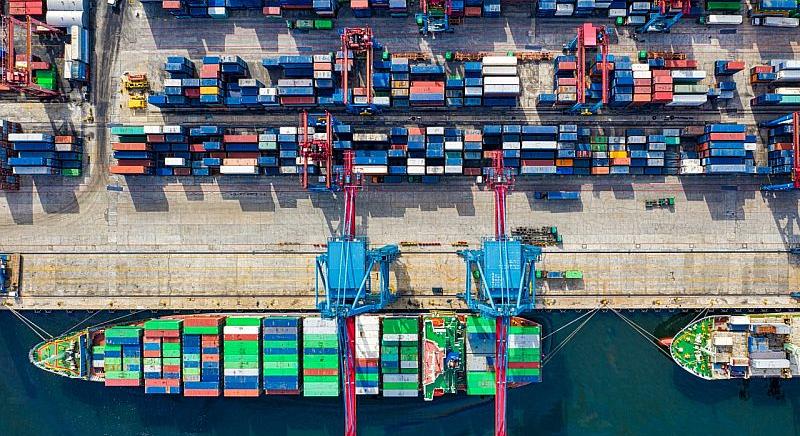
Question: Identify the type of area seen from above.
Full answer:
It's a port.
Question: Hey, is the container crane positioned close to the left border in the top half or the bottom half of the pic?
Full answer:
You can find the container crane positioned close to the left border in the top half.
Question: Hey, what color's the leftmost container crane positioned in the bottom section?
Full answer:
From above, the leftmost container crane positioned in the bottom section appears blue.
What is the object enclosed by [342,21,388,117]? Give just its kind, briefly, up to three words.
container crane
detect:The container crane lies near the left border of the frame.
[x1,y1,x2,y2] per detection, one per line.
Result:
[4,14,71,103]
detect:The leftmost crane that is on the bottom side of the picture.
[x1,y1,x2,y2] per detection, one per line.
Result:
[314,145,402,436]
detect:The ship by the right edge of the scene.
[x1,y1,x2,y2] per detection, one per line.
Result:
[659,311,800,381]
